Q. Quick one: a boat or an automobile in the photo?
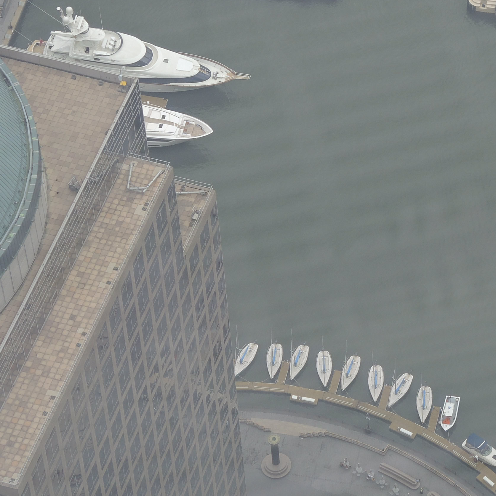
boat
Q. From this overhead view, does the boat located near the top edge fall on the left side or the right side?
left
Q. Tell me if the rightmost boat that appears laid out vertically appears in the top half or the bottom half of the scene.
bottom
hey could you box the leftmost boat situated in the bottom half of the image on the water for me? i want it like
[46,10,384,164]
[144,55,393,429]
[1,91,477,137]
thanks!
[235,333,257,377]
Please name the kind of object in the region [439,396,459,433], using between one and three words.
boat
